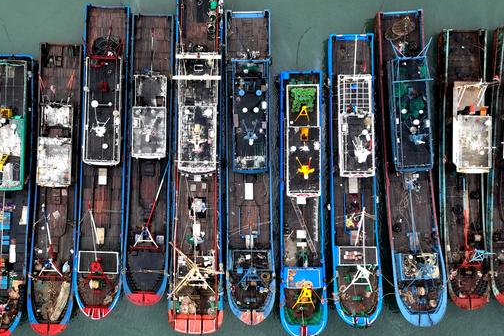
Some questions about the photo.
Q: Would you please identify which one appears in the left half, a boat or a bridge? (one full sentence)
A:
There is a boat in the left half.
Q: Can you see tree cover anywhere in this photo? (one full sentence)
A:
No, tree cover can't be seen anywhere here.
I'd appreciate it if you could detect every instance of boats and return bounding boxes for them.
[276,71,328,336]
[223,11,275,325]
[165,0,225,335]
[122,15,176,306]
[74,6,132,321]
[372,12,448,328]
[485,26,504,303]
[26,45,84,336]
[325,35,382,328]
[433,30,497,310]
